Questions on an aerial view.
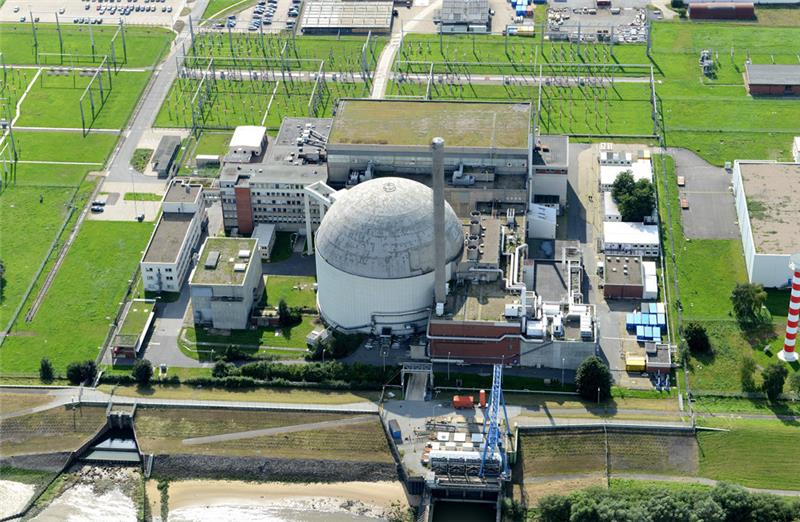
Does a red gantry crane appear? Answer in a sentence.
No, there appears to be no red gantry crane in this shot.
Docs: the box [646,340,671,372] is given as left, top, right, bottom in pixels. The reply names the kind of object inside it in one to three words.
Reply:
house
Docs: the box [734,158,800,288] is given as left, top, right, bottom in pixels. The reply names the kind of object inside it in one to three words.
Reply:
building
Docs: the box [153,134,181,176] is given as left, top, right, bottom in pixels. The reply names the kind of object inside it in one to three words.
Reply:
shed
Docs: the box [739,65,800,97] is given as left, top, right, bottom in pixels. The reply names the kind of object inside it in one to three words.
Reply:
building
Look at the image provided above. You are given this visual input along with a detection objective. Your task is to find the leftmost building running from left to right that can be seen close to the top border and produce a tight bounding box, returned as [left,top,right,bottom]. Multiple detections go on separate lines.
[300,0,395,38]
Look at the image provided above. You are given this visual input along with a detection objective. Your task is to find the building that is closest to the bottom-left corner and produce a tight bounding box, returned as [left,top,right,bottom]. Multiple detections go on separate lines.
[104,297,159,358]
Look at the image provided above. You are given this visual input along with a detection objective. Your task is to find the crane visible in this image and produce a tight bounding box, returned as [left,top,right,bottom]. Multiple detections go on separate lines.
[480,361,512,477]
